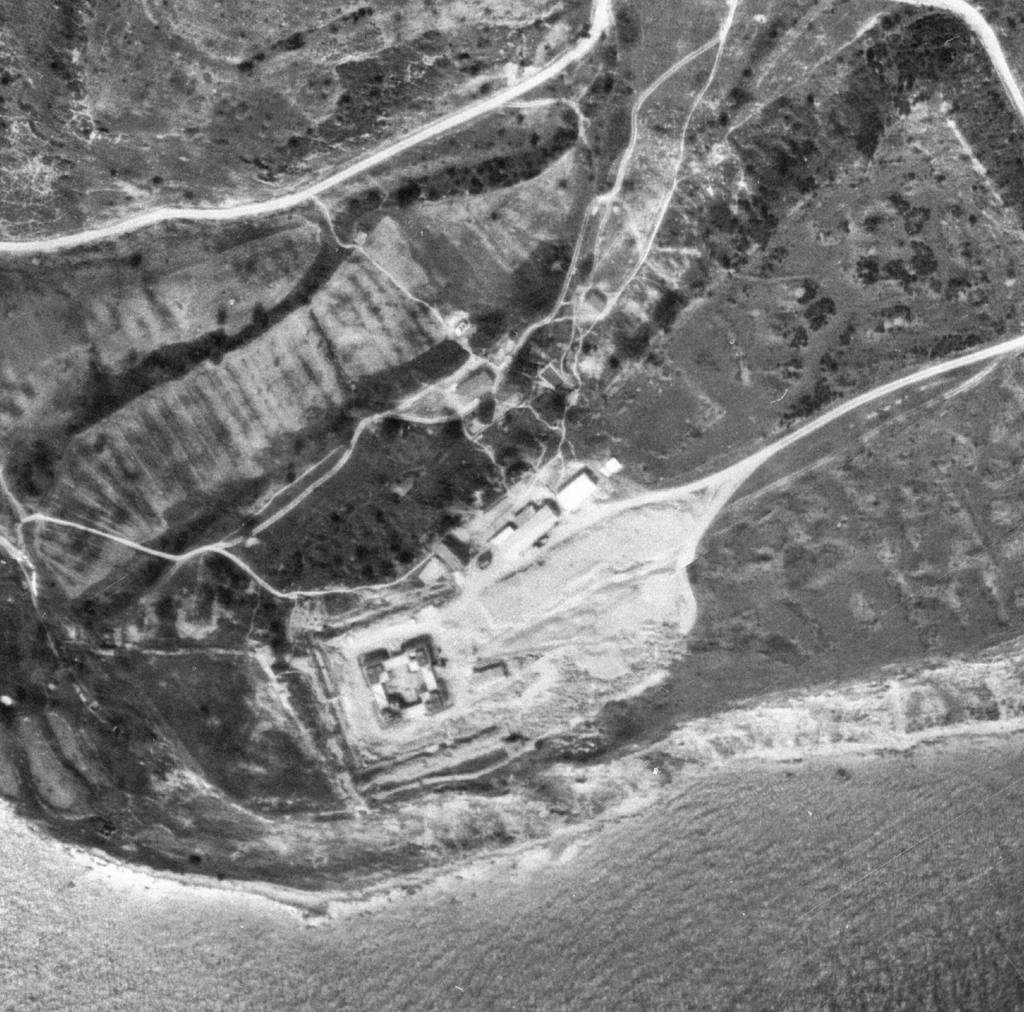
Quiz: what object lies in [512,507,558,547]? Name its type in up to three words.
shed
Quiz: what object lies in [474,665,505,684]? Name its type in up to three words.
house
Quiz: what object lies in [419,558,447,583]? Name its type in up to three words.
house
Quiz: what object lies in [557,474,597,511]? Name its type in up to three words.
barn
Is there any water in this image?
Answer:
Yes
